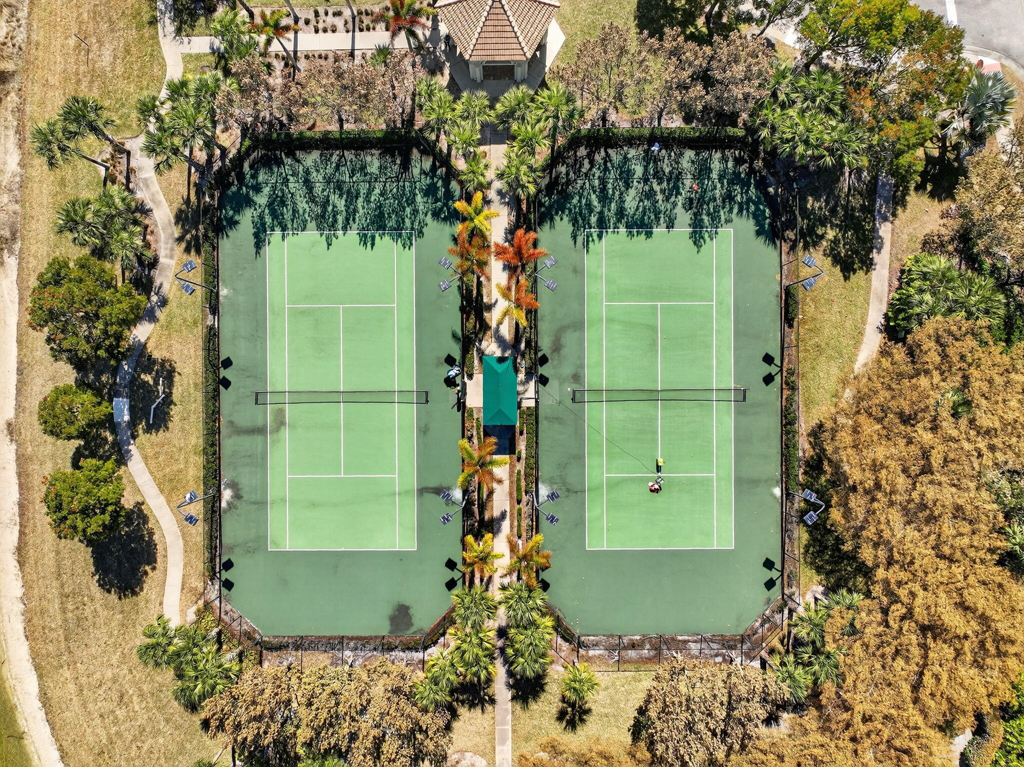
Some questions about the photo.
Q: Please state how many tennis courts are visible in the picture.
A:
2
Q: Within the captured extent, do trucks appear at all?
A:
No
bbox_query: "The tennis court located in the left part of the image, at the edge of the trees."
[220,146,465,637]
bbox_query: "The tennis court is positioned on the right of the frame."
[538,145,782,635]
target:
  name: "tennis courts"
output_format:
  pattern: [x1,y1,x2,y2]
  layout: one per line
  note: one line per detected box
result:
[538,145,782,635]
[220,146,465,637]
